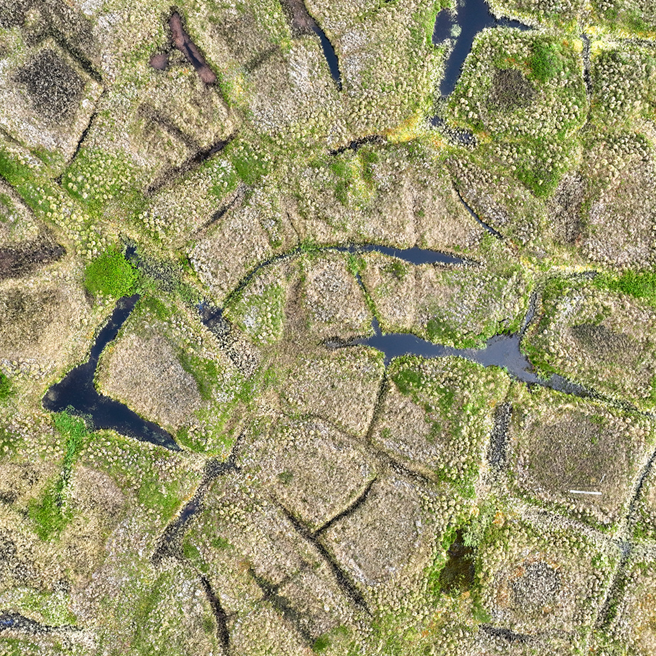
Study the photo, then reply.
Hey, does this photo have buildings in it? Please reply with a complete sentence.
No, no building is visible in the view.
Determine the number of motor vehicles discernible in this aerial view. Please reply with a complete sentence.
There are no motor vehicles in the image.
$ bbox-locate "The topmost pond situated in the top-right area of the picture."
[432,0,532,97]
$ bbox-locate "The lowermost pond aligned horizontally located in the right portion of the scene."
[339,317,601,398]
